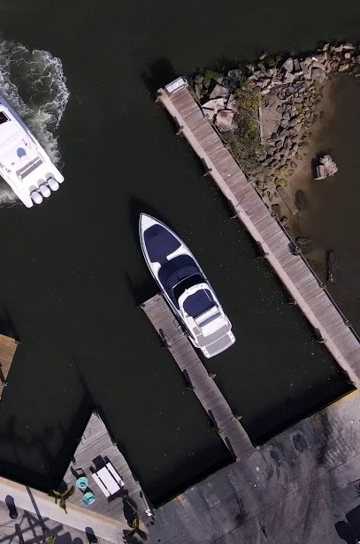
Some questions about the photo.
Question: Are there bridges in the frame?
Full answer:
No, there's no bridge here.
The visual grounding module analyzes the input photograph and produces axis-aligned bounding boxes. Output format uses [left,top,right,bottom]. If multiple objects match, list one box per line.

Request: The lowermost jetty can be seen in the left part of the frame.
[49,408,153,527]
